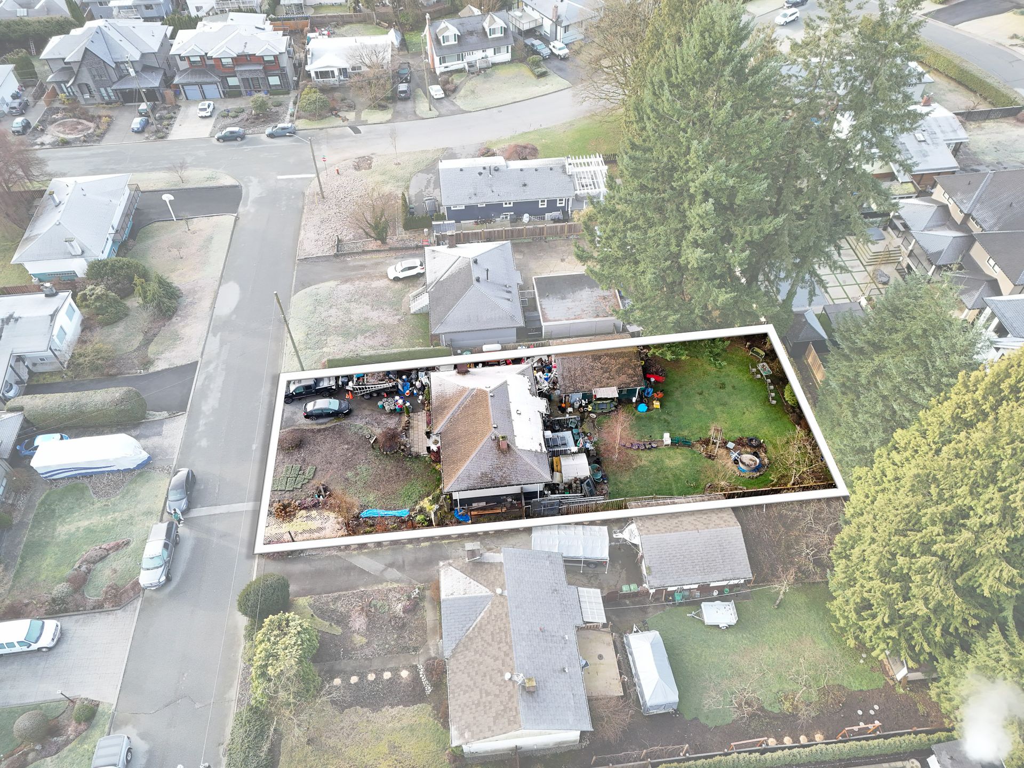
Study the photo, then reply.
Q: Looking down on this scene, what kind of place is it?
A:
residential area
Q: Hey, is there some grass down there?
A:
Yes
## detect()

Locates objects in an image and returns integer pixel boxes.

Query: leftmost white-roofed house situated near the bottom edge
[439,546,607,751]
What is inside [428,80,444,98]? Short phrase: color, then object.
white car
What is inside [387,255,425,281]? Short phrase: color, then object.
white car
